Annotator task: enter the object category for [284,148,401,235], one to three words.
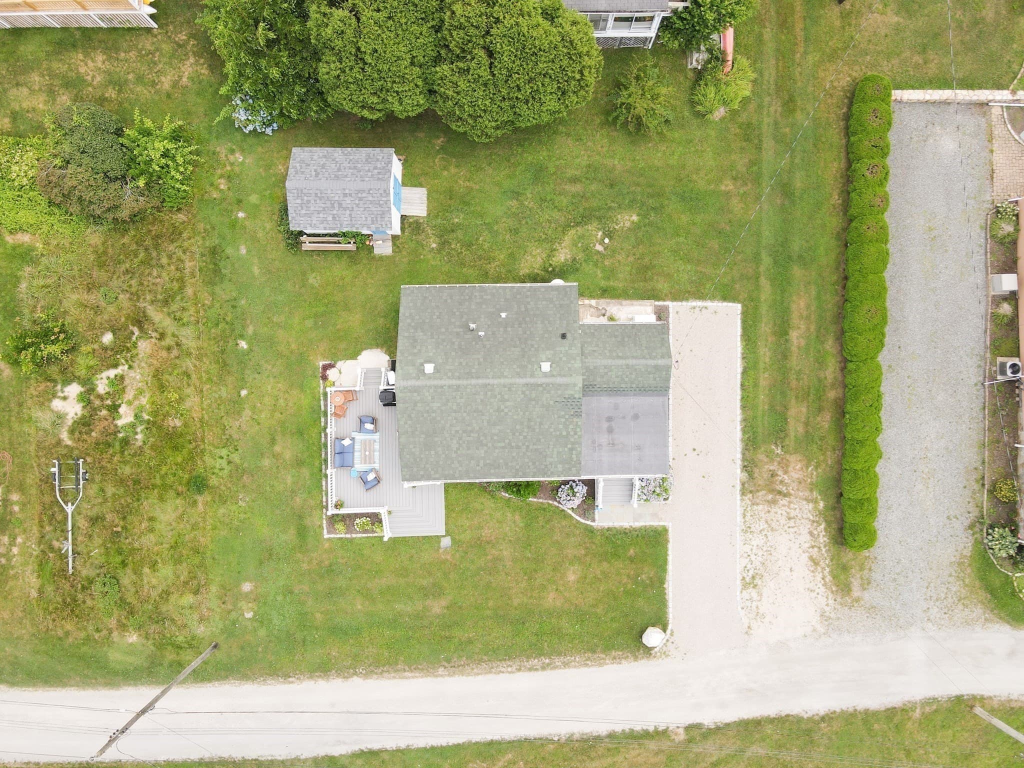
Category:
shed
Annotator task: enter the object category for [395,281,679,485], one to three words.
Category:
house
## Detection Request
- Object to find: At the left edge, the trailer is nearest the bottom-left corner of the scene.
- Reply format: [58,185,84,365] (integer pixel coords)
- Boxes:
[49,458,90,574]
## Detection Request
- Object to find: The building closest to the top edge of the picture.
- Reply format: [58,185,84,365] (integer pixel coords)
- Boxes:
[587,0,676,50]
